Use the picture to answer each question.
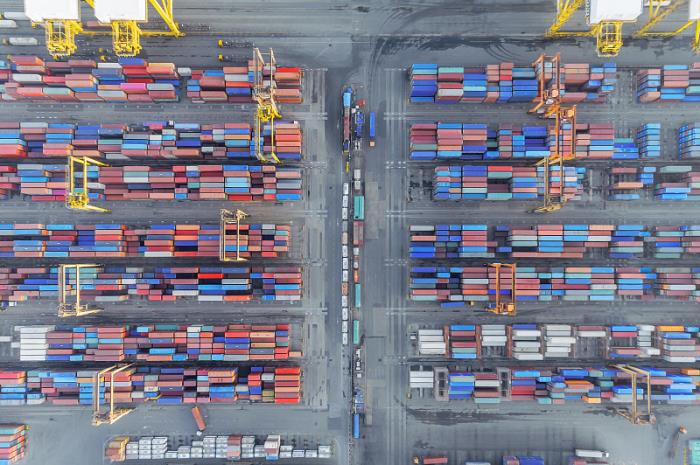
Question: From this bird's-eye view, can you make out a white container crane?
Yes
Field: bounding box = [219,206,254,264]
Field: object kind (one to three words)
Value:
crane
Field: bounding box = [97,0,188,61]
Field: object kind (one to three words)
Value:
container crane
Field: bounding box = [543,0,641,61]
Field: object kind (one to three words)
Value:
container crane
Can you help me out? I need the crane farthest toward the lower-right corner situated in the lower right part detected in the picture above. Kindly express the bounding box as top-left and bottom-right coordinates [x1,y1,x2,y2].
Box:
[602,362,654,432]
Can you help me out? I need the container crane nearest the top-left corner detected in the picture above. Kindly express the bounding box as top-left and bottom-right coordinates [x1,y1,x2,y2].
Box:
[27,0,111,61]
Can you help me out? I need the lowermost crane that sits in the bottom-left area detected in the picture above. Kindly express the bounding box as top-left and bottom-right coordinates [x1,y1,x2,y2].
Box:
[93,362,141,432]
